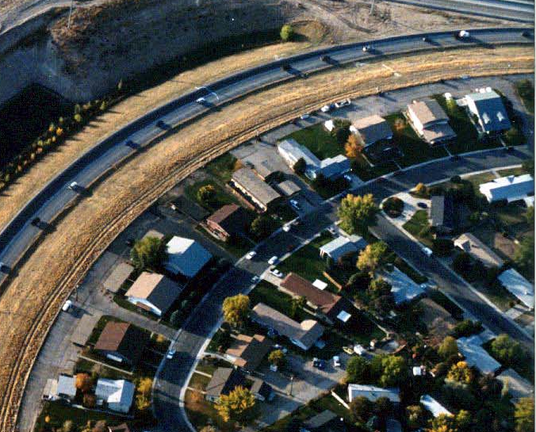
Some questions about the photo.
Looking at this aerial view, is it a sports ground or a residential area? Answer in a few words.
residential area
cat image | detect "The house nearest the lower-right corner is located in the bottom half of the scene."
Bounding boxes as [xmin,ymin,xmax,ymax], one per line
[499,371,536,400]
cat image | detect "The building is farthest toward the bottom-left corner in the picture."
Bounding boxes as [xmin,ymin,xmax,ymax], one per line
[53,376,80,402]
